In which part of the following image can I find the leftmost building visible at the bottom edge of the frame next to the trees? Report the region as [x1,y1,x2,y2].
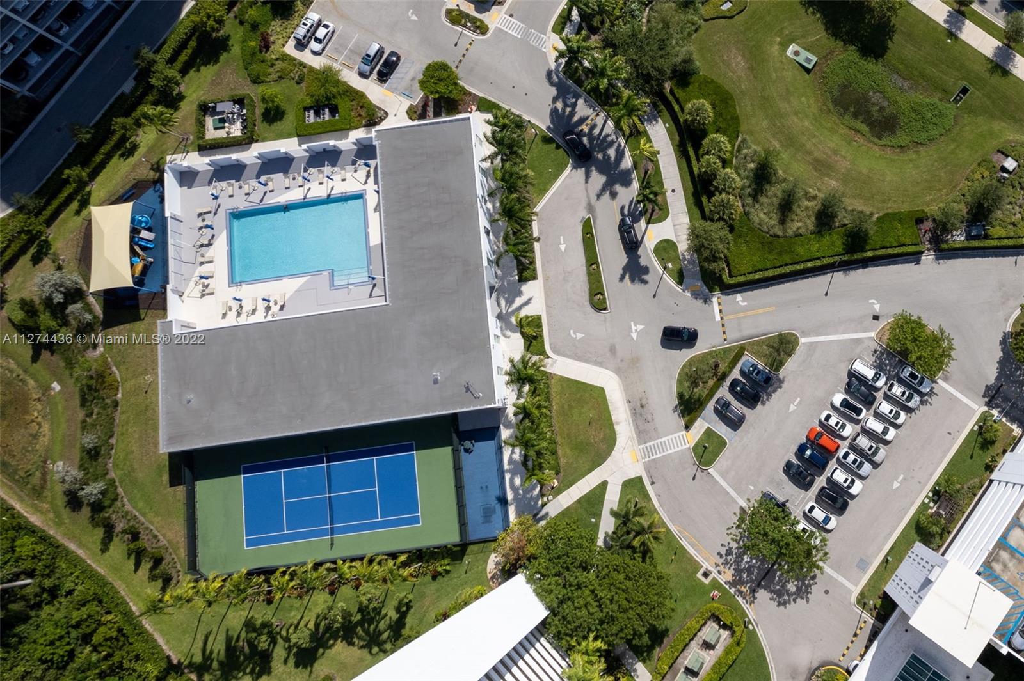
[356,575,576,681]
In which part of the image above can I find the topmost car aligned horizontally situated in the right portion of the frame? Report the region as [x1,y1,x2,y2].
[661,324,699,342]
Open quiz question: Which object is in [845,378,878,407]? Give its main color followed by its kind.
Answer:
black car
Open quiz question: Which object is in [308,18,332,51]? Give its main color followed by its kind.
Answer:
white car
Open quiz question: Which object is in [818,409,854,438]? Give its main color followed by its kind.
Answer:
white car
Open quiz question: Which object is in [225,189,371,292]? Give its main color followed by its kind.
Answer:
blue swimming pool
